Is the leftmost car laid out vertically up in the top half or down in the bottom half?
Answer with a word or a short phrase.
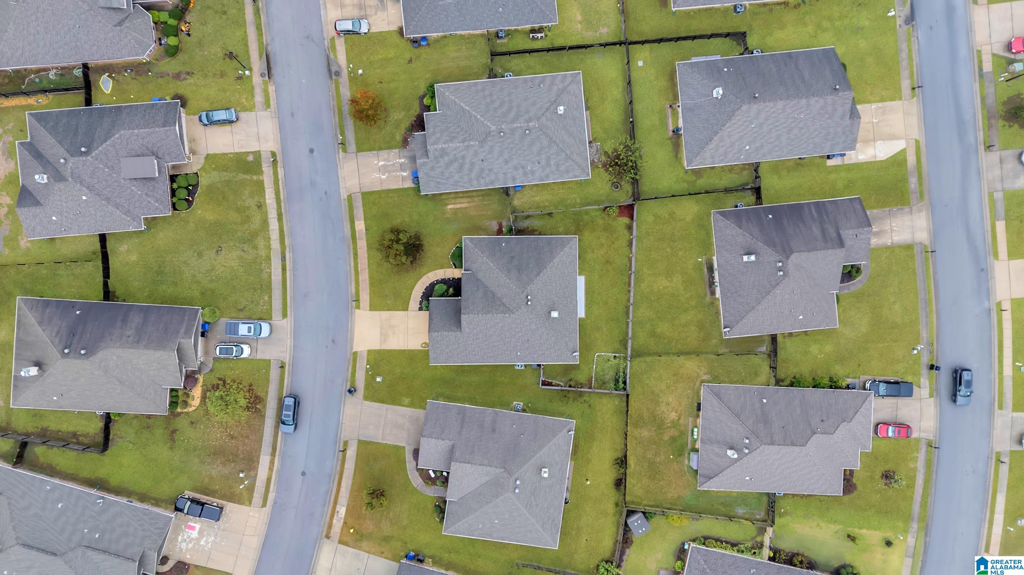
bottom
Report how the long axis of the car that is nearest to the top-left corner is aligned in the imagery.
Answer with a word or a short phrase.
from side to side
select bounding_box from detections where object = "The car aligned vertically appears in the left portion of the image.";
[280,394,301,434]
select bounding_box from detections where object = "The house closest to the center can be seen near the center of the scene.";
[428,235,579,366]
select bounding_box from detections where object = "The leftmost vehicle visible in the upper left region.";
[199,107,240,127]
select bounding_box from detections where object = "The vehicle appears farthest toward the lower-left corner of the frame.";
[175,494,225,524]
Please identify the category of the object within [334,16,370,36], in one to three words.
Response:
car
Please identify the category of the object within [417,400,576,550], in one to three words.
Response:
house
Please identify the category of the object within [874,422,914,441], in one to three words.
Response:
car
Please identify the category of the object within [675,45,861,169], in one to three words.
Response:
house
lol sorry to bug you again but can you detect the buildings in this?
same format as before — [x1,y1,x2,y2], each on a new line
[0,0,161,73]
[15,99,192,240]
[0,460,179,575]
[680,540,837,575]
[669,0,803,14]
[625,512,650,537]
[401,0,559,40]
[675,45,861,169]
[417,400,576,550]
[10,296,206,415]
[709,195,872,339]
[428,235,579,366]
[414,70,592,195]
[696,383,875,496]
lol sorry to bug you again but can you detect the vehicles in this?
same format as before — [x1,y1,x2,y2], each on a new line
[280,394,301,434]
[199,107,240,127]
[224,320,272,339]
[214,342,252,360]
[334,16,370,36]
[874,422,914,441]
[1007,36,1024,54]
[950,367,973,406]
[864,379,914,399]
[175,494,225,524]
